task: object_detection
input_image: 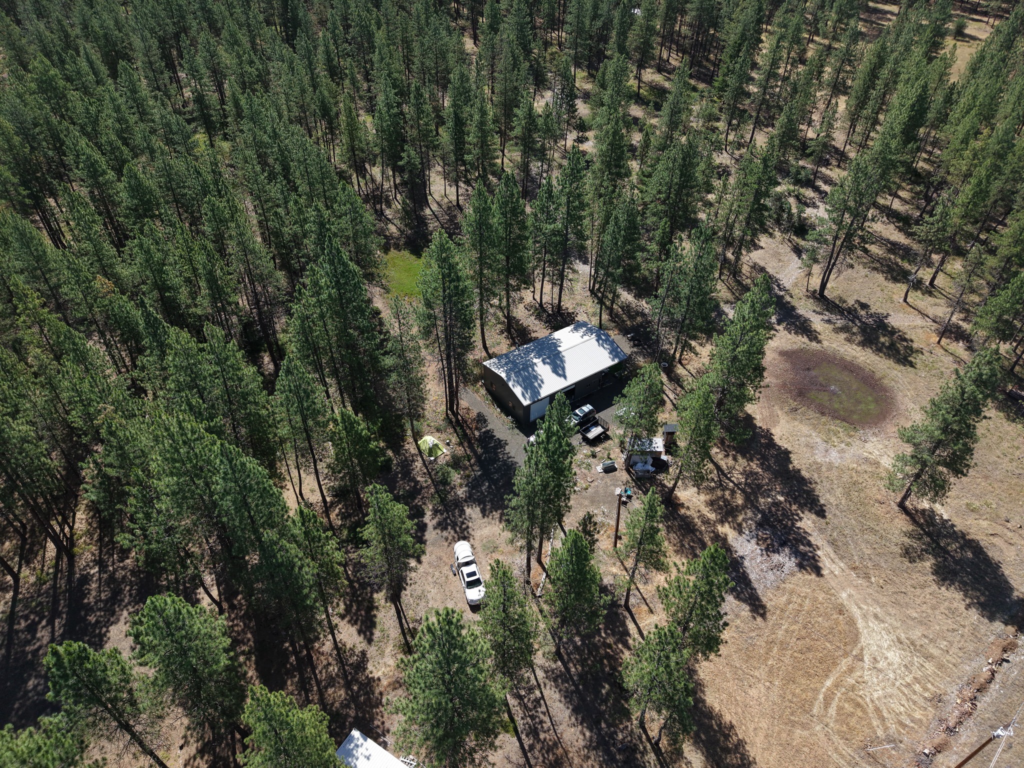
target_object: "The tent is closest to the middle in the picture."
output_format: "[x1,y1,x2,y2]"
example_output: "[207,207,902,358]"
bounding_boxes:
[417,437,448,459]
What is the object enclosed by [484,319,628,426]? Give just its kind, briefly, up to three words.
building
